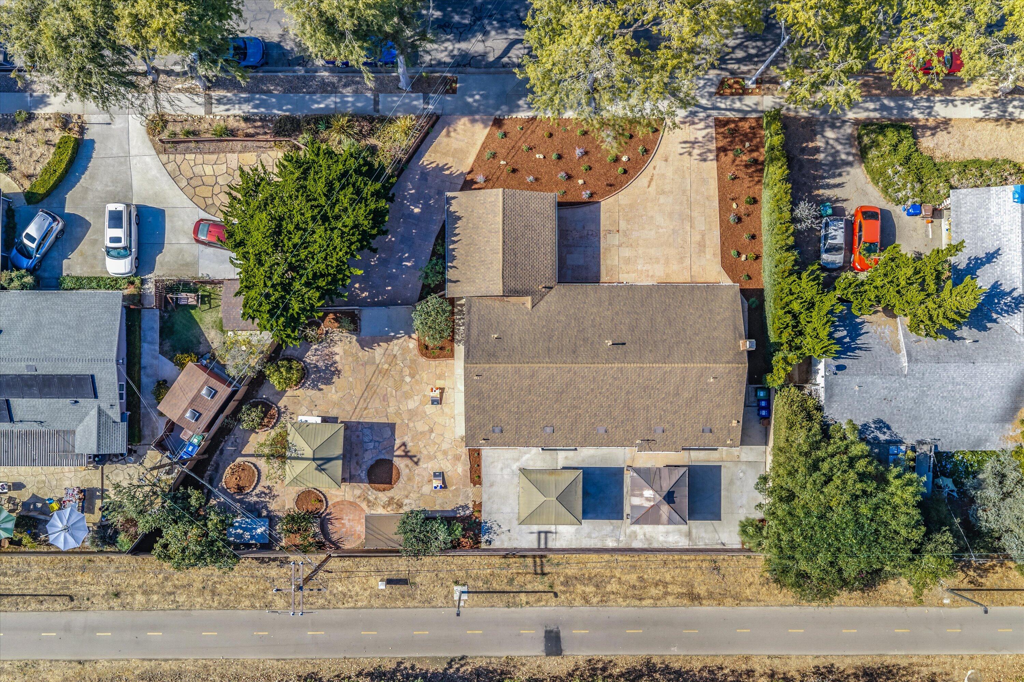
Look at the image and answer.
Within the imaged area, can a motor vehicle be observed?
Yes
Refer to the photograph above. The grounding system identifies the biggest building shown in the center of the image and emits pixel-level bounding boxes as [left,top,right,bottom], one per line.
[444,188,760,455]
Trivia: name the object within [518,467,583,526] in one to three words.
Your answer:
gazebo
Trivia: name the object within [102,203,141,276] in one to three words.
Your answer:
car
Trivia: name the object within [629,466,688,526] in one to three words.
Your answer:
gazebo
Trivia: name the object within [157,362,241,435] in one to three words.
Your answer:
shed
